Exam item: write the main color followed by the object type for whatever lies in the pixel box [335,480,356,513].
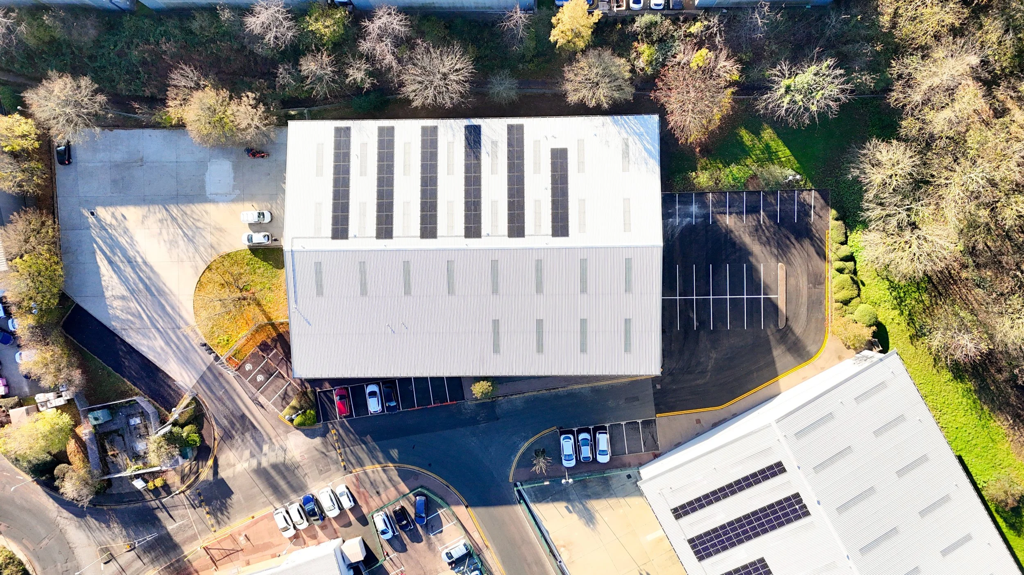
white car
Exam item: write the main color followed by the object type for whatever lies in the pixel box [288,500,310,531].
white car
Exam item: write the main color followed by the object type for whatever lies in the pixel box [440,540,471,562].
white vehicle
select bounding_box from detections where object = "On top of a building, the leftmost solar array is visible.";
[330,126,352,239]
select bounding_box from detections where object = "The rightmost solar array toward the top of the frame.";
[550,148,569,236]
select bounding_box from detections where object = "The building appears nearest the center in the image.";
[284,112,662,380]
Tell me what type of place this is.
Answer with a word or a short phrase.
industrial area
